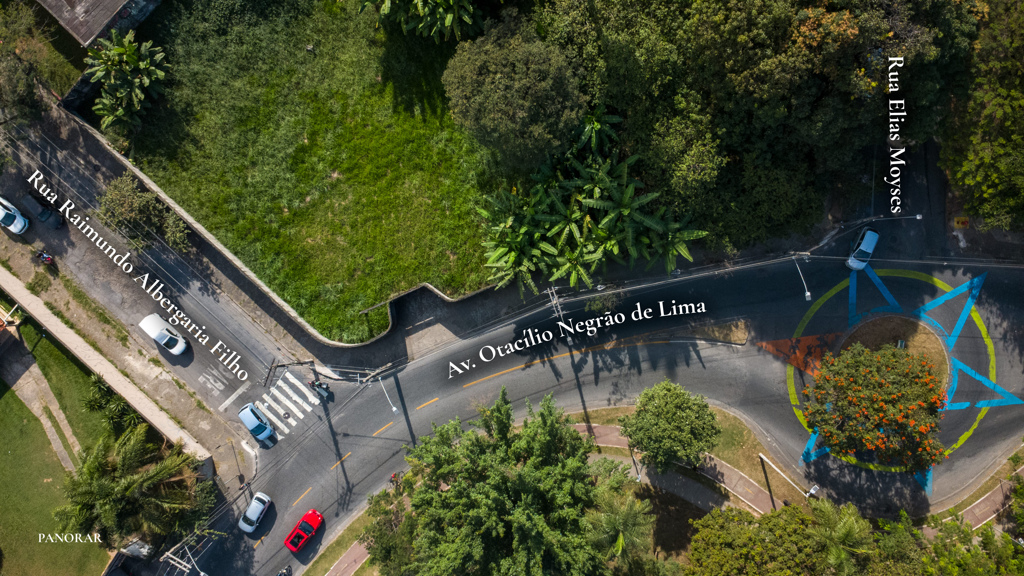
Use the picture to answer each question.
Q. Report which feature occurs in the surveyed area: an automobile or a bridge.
automobile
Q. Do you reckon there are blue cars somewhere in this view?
Yes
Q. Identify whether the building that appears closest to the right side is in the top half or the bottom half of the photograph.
top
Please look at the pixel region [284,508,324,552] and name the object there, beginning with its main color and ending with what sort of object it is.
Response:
red car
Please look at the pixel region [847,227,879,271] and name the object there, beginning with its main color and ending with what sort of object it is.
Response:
blue car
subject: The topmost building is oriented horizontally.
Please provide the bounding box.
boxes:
[35,0,166,61]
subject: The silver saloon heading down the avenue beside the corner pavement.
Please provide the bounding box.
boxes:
[239,490,273,534]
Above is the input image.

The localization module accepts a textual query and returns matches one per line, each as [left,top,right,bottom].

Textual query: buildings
[0,302,23,346]
[35,0,166,61]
